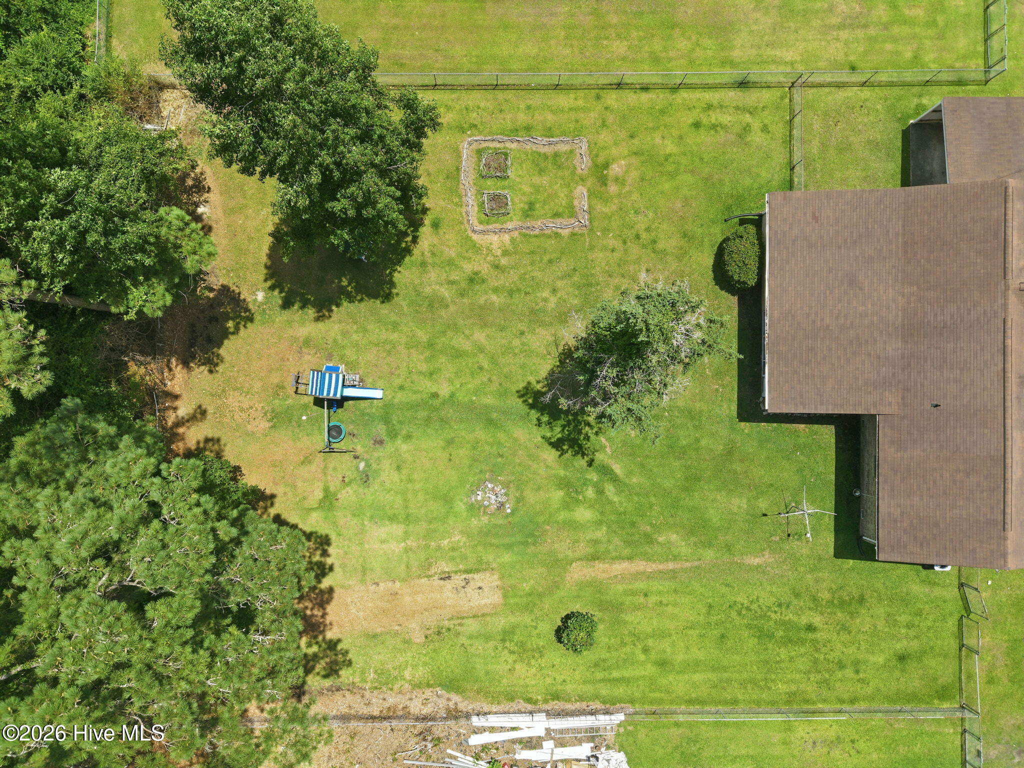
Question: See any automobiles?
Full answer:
No, there appears to be no automobile in this shot.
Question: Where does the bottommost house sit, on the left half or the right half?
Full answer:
The bottommost house appears in the right half of the scene.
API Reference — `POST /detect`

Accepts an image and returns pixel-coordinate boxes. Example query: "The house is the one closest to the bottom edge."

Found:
[752,179,1024,569]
